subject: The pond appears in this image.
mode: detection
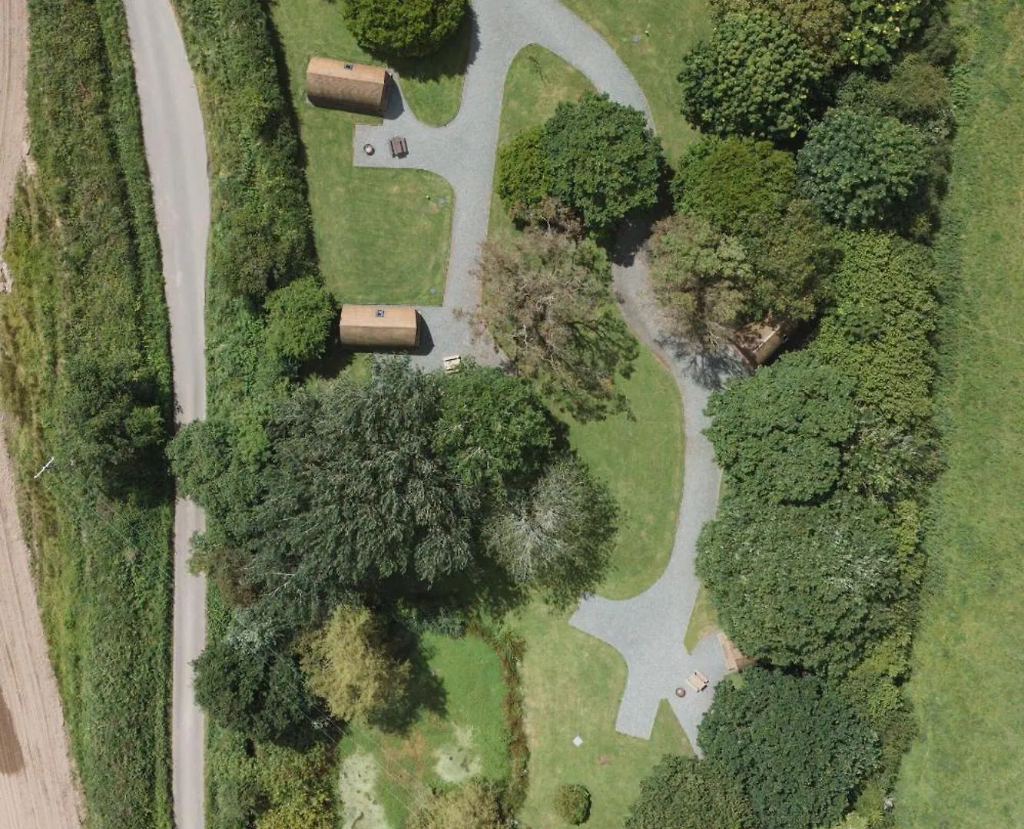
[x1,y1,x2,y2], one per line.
[333,635,512,829]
